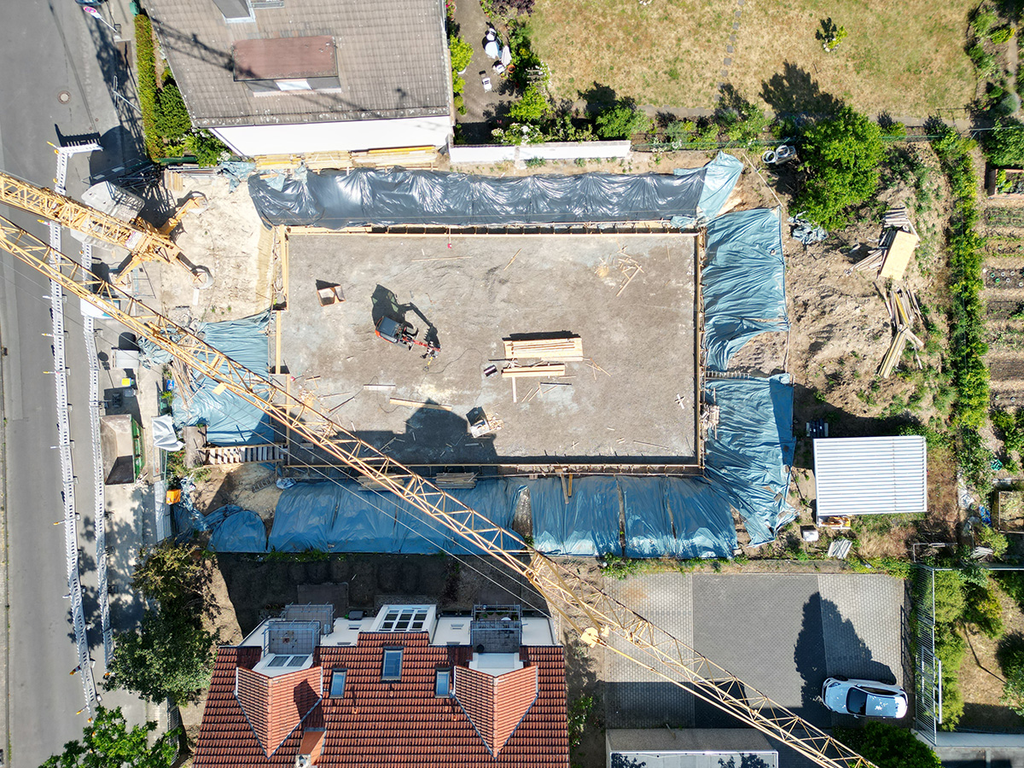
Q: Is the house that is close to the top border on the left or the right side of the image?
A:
left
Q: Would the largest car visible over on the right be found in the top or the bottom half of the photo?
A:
bottom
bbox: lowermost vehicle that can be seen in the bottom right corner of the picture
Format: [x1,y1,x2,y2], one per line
[817,670,908,720]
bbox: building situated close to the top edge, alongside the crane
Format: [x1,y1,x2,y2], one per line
[131,0,458,157]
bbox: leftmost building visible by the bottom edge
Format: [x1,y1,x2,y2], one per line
[196,593,568,768]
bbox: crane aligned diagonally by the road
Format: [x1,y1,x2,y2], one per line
[0,176,879,768]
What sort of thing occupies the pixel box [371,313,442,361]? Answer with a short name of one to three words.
work vehicle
